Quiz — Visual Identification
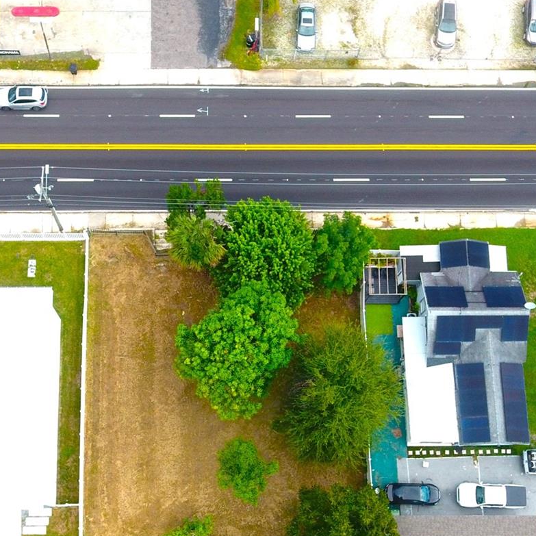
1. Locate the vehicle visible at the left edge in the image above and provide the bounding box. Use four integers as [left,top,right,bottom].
[0,82,48,112]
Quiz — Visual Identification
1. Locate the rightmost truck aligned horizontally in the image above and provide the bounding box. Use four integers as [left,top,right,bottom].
[456,480,531,511]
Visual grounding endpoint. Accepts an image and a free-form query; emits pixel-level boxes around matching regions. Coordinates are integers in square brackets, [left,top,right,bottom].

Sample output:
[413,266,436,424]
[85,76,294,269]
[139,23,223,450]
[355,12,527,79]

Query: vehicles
[247,34,259,53]
[294,2,320,53]
[0,82,48,112]
[456,480,531,511]
[521,448,536,475]
[521,0,536,47]
[432,0,461,51]
[386,479,441,508]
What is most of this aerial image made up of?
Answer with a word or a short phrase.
paved ground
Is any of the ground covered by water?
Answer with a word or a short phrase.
No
